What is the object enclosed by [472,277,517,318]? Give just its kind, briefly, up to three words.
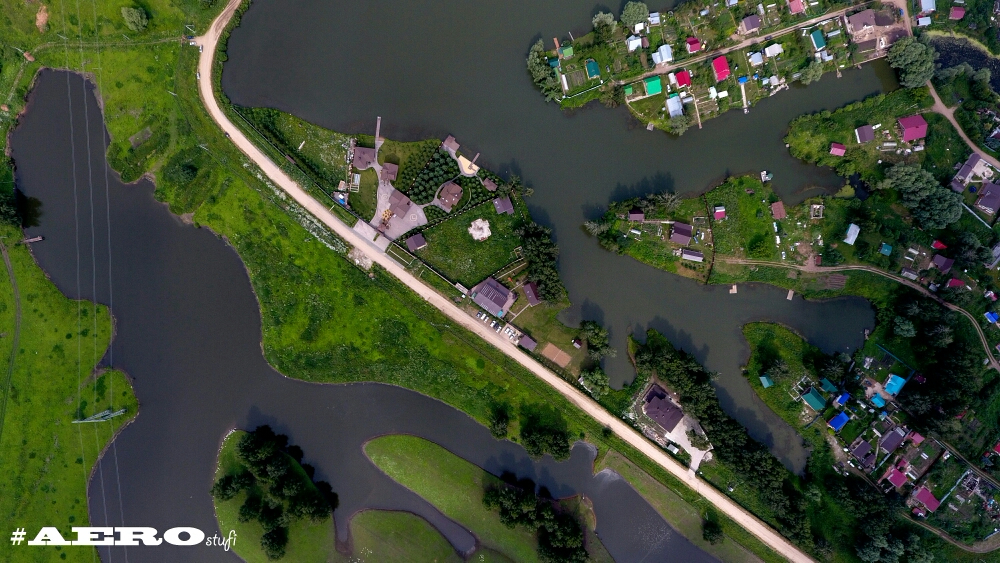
building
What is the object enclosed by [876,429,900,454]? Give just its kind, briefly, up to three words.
house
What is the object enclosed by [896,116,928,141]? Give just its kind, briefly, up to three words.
house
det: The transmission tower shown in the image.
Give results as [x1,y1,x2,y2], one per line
[77,408,128,421]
